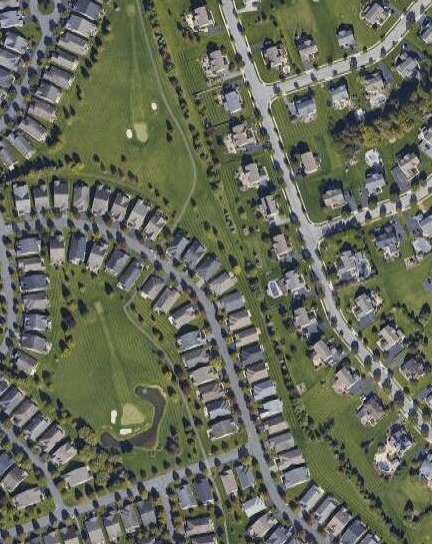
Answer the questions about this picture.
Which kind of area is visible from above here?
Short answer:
residential area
